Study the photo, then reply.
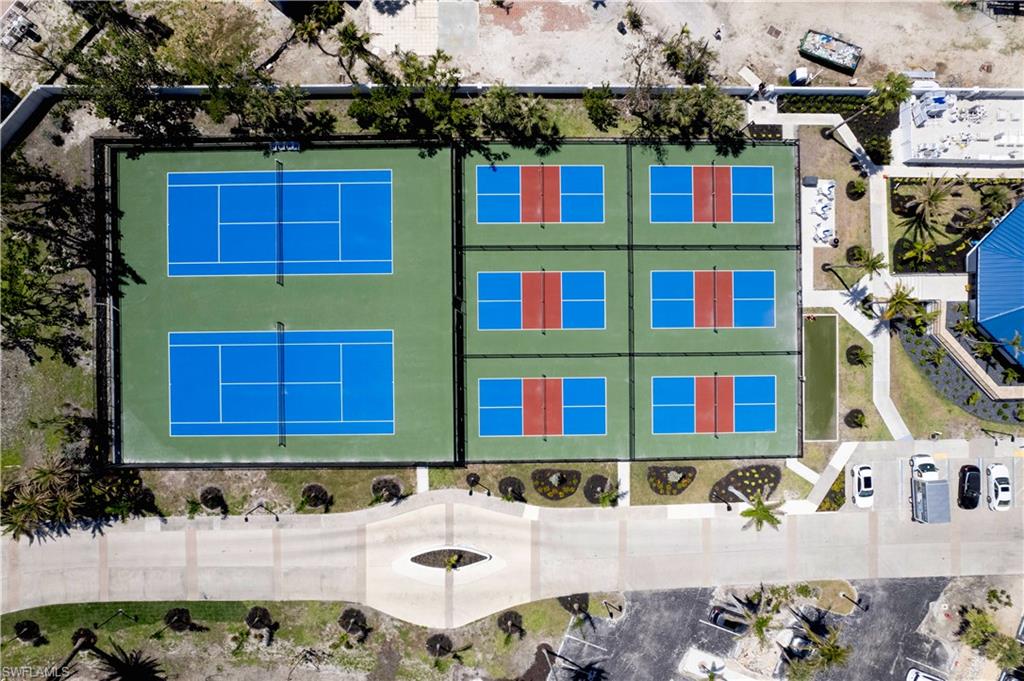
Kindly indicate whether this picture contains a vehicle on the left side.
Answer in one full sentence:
No, no vehicle appears on the left side.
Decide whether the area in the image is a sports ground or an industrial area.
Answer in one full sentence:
It's a sports ground.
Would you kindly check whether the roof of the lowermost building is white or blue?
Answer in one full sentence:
In this view, the roof of the lowermost building is blue.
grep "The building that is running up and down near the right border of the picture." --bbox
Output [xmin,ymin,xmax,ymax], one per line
[952,192,1024,369]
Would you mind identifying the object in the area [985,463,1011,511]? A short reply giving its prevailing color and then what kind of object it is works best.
white car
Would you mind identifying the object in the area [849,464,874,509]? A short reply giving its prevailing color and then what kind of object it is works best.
white car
